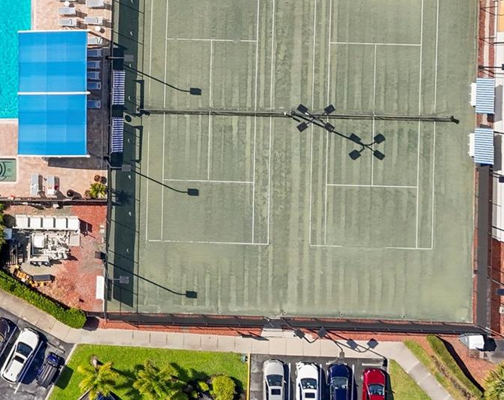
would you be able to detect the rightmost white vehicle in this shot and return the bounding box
[295,360,322,400]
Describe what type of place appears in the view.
sports ground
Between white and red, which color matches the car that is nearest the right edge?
red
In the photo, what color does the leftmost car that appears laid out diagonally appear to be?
white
